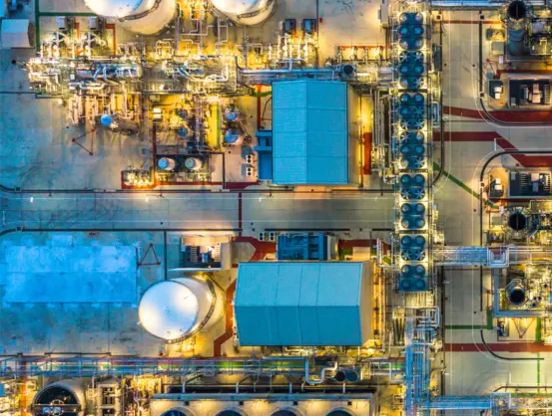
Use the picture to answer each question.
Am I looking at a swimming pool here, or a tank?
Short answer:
tank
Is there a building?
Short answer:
Yes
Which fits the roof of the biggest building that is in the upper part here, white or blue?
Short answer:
blue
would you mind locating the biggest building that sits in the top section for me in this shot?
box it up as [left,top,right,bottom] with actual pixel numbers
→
[270,76,357,186]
